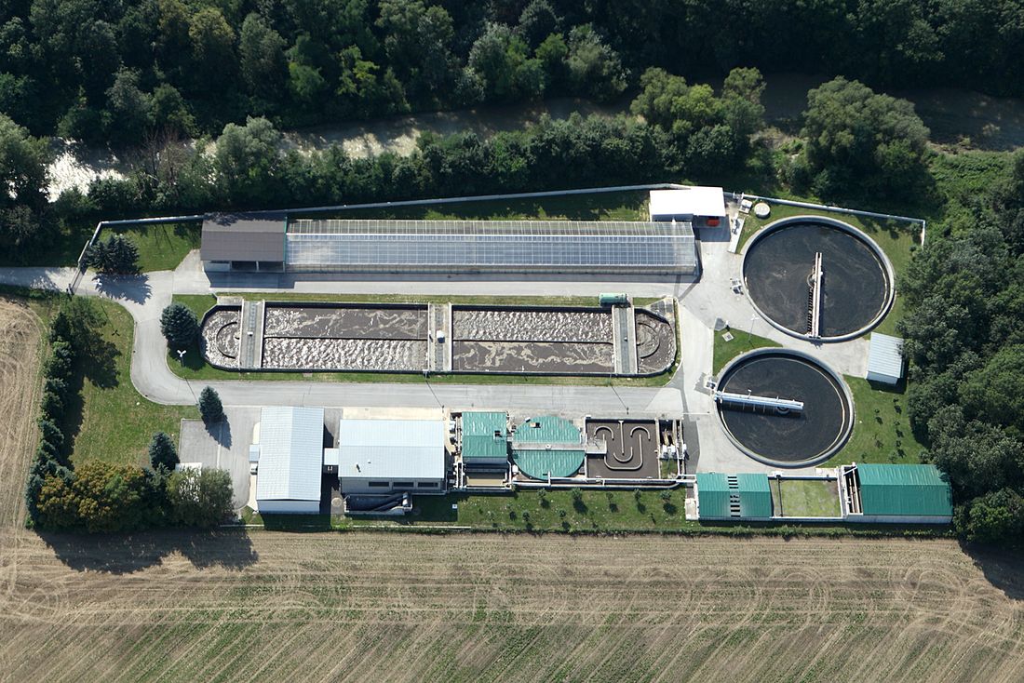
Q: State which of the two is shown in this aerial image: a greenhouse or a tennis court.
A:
greenhouse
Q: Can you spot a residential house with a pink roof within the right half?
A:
No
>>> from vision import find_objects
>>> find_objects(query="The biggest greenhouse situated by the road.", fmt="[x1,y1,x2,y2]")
[288,220,697,275]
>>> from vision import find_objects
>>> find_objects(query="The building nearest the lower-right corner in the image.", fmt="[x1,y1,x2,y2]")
[856,464,950,521]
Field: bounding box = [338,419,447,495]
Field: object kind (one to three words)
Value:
house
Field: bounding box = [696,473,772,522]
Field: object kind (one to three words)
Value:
house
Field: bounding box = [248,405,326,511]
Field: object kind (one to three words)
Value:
building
